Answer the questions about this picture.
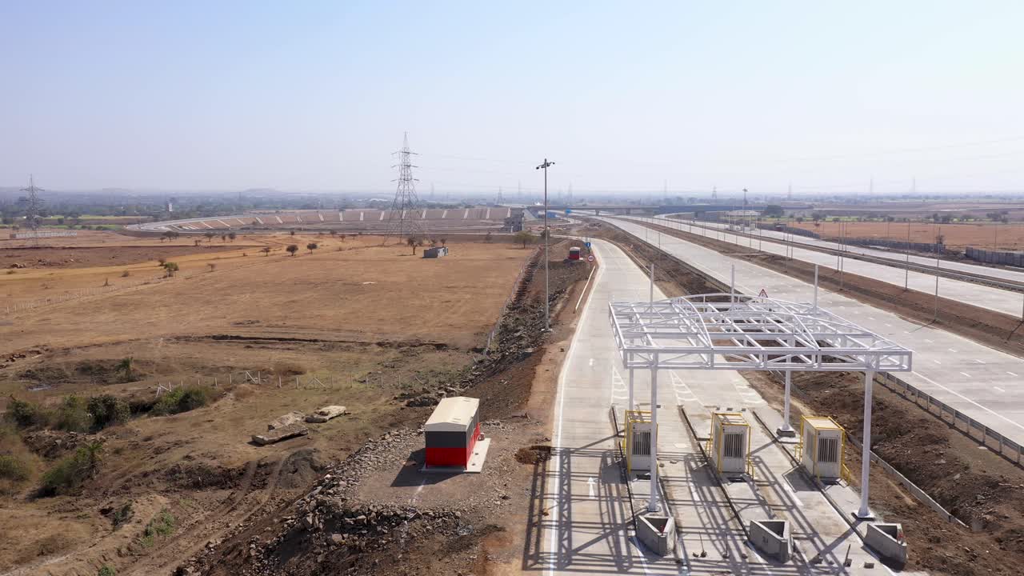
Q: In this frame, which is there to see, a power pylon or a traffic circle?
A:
power pylon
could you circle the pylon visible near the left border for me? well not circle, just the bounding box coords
[21,172,50,246]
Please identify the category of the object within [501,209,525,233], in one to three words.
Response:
building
